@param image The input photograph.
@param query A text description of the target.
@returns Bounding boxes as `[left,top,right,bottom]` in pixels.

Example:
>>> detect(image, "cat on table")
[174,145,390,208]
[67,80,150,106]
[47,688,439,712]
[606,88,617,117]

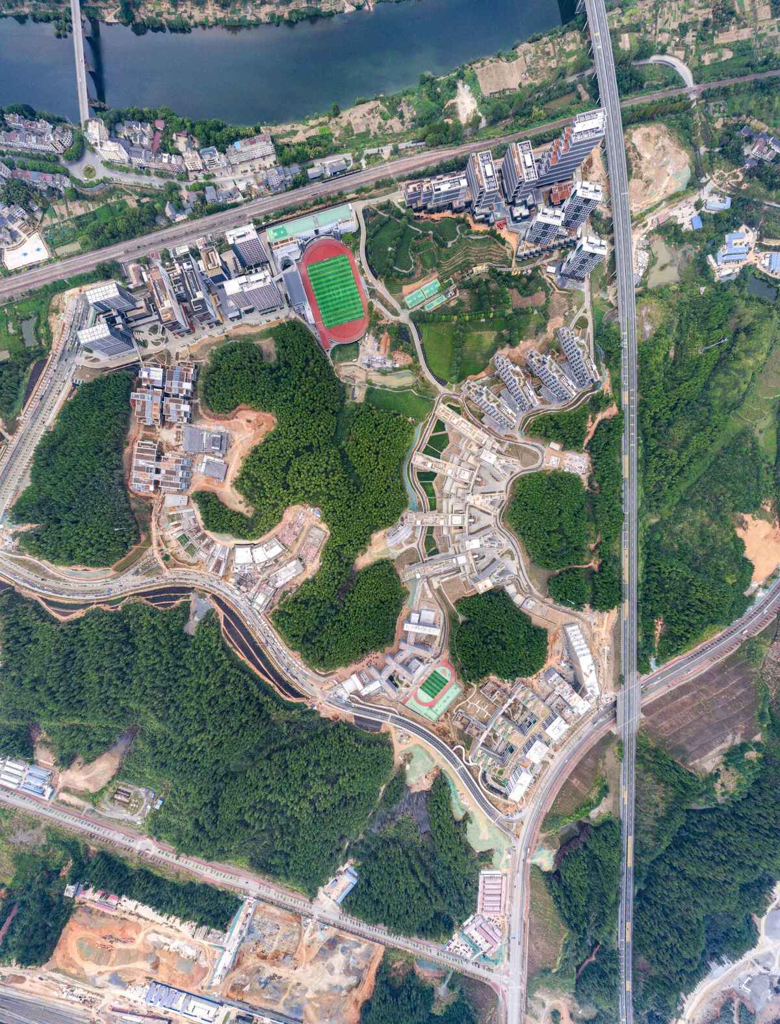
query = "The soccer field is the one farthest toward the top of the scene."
[307,254,364,328]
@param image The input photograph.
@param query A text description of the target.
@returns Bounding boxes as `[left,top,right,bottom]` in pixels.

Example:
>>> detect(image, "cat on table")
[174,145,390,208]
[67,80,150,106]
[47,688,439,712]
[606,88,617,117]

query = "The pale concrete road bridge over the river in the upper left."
[71,0,101,128]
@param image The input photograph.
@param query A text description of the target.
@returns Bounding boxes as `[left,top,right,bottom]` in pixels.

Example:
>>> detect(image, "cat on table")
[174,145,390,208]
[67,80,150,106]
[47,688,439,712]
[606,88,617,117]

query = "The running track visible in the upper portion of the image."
[298,239,372,346]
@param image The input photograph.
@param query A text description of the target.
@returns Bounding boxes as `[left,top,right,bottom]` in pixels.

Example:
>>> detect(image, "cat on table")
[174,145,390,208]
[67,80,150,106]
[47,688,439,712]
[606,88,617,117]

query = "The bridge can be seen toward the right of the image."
[566,0,642,1024]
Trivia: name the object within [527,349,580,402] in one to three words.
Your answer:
building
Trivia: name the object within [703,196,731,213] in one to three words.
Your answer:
building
